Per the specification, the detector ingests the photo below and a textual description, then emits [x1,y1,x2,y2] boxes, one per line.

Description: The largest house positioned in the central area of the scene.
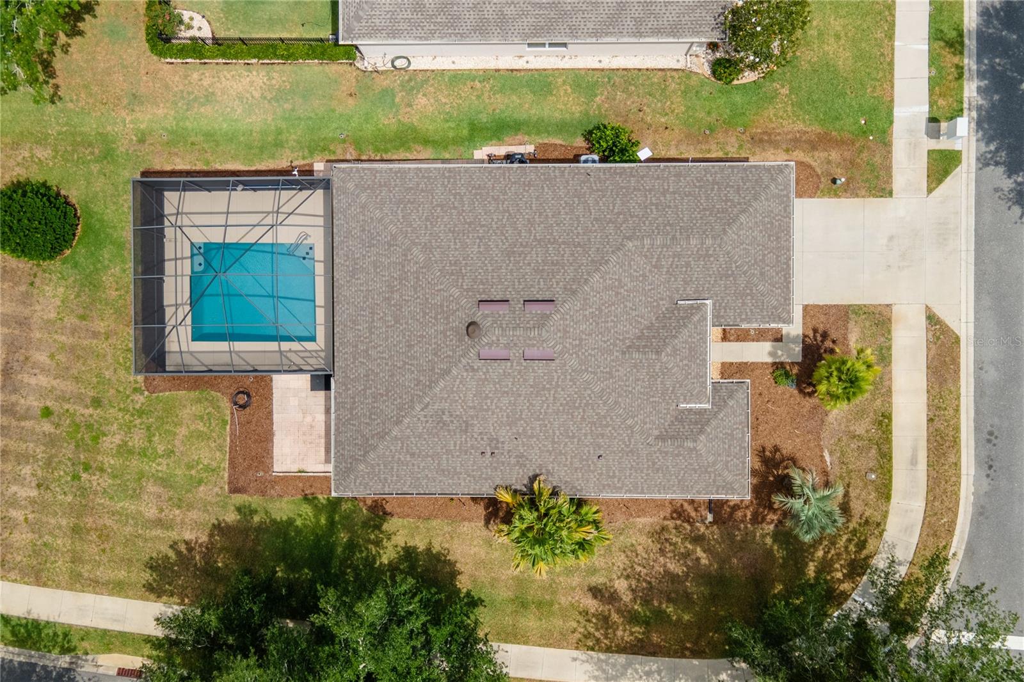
[331,162,796,499]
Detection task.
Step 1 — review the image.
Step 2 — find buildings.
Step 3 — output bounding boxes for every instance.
[338,0,730,56]
[331,162,796,499]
